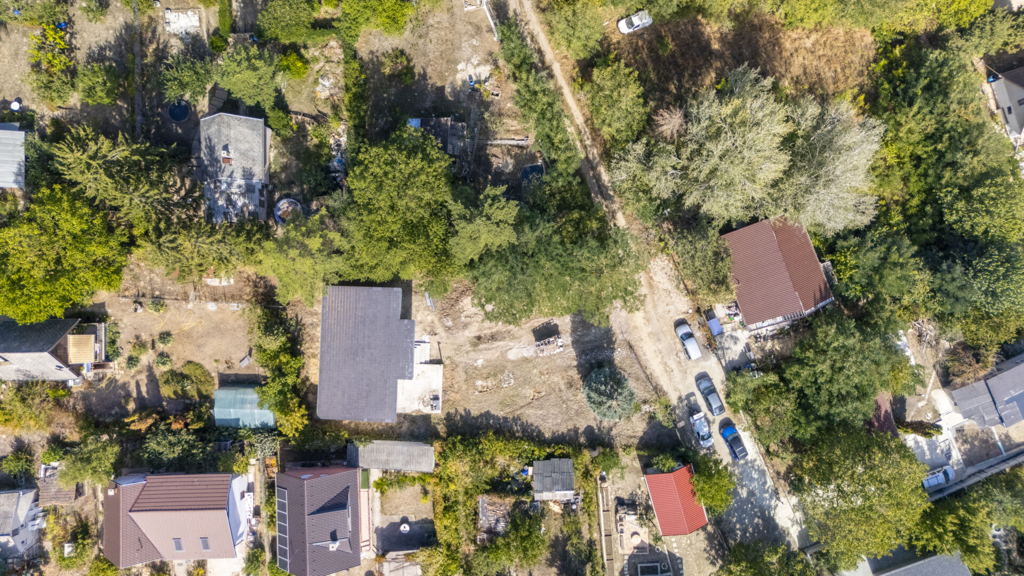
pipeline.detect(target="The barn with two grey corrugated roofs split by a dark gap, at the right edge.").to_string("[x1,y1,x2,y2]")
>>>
[938,358,1024,430]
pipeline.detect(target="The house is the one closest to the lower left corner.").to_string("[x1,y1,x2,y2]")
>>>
[0,487,47,558]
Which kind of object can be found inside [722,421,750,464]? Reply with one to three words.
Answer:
car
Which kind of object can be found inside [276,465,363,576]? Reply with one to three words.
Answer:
house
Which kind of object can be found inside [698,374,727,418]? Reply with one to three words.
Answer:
car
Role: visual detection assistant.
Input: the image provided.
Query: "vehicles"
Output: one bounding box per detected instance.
[698,374,727,418]
[722,421,750,464]
[676,322,703,363]
[686,410,715,452]
[916,465,956,491]
[616,8,656,36]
